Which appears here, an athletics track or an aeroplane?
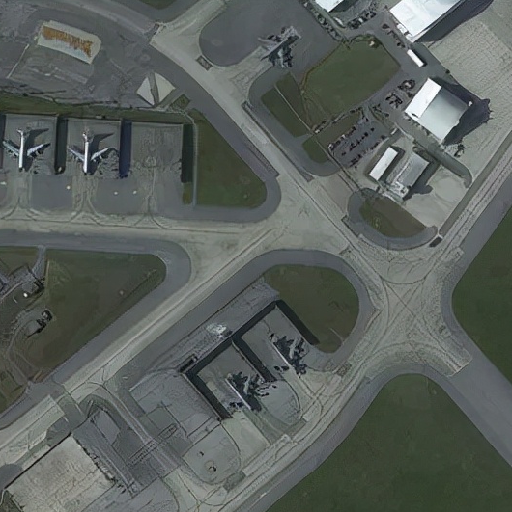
aeroplane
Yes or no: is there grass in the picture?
Yes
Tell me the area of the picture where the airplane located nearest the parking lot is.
top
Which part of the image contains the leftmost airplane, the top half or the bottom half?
top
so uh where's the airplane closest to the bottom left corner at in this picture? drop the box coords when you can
[216,371,253,410]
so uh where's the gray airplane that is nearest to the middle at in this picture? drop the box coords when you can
[259,331,295,371]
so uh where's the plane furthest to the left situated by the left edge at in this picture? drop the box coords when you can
[2,130,42,170]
